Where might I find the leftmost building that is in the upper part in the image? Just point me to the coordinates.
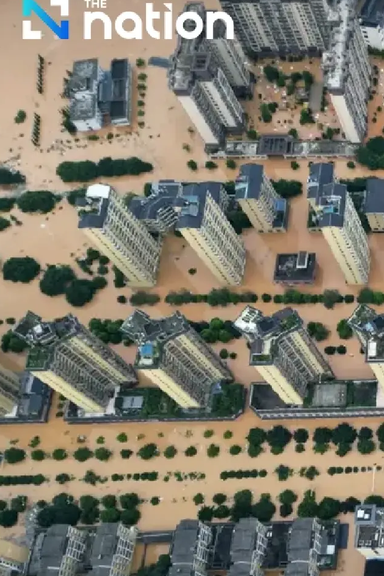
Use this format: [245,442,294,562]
[69,60,110,131]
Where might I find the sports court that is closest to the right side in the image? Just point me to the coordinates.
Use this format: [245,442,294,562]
[312,383,347,407]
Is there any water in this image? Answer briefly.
Yes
